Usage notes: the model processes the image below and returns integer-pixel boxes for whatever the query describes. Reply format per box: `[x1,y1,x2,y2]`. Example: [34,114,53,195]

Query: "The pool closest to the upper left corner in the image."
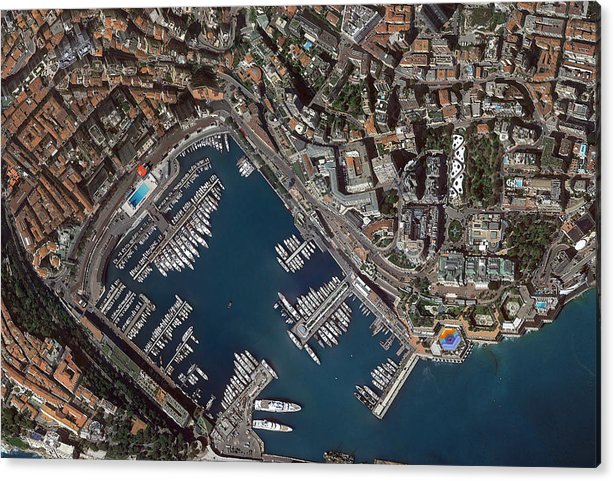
[122,174,158,217]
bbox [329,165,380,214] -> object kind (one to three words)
house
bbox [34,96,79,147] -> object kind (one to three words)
building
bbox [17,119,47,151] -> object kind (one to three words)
building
